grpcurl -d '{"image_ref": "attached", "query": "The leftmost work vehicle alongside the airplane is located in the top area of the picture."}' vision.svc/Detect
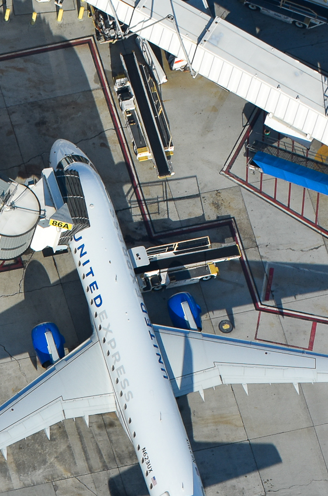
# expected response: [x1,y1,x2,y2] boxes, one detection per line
[112,47,180,180]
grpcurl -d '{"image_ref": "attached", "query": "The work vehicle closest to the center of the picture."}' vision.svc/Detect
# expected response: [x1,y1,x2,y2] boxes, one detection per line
[134,234,243,298]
